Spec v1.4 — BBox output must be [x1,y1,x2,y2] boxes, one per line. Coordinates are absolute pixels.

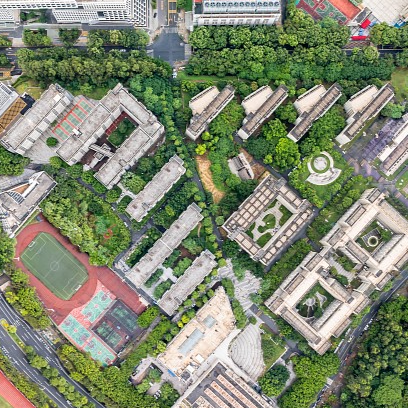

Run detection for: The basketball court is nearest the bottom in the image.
[83,336,116,367]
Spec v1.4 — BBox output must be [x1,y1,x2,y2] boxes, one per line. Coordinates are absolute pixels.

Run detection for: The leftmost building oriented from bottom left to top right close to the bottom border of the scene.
[134,286,235,388]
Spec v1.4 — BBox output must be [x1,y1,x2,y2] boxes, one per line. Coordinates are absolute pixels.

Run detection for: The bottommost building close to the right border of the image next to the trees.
[262,185,408,355]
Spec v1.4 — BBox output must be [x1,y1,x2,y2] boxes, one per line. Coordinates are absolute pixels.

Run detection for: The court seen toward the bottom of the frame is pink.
[62,288,118,367]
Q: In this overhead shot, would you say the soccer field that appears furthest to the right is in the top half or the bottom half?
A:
bottom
